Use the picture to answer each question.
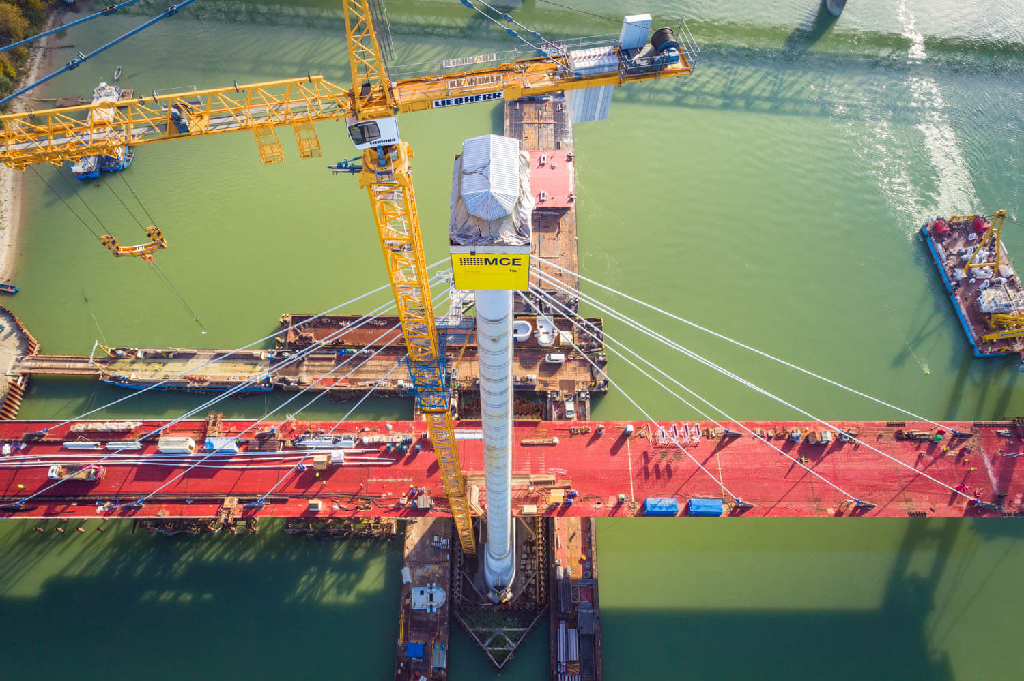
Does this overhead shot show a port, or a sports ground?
port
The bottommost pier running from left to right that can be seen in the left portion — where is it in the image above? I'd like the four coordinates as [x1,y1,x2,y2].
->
[15,351,112,382]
